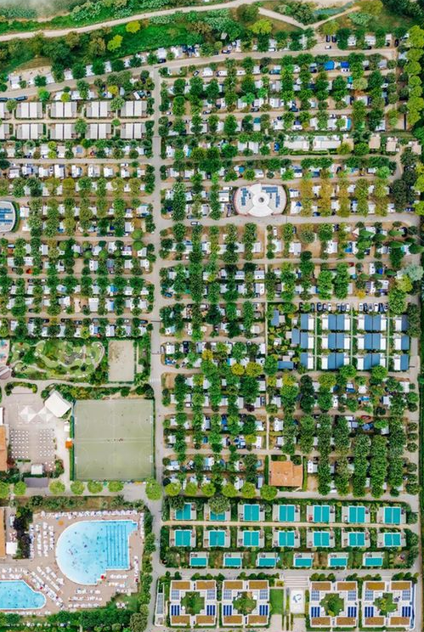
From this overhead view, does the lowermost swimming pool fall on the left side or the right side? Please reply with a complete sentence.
The lowermost swimming pool is on the left side of the image.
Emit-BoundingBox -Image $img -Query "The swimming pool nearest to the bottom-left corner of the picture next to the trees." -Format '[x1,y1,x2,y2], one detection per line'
[0,579,47,610]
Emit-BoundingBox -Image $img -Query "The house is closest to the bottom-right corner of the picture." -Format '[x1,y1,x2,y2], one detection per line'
[360,581,411,627]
